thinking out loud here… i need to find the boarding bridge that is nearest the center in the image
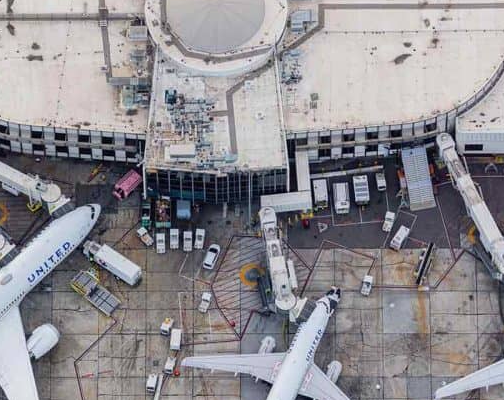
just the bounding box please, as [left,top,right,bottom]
[259,207,318,325]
